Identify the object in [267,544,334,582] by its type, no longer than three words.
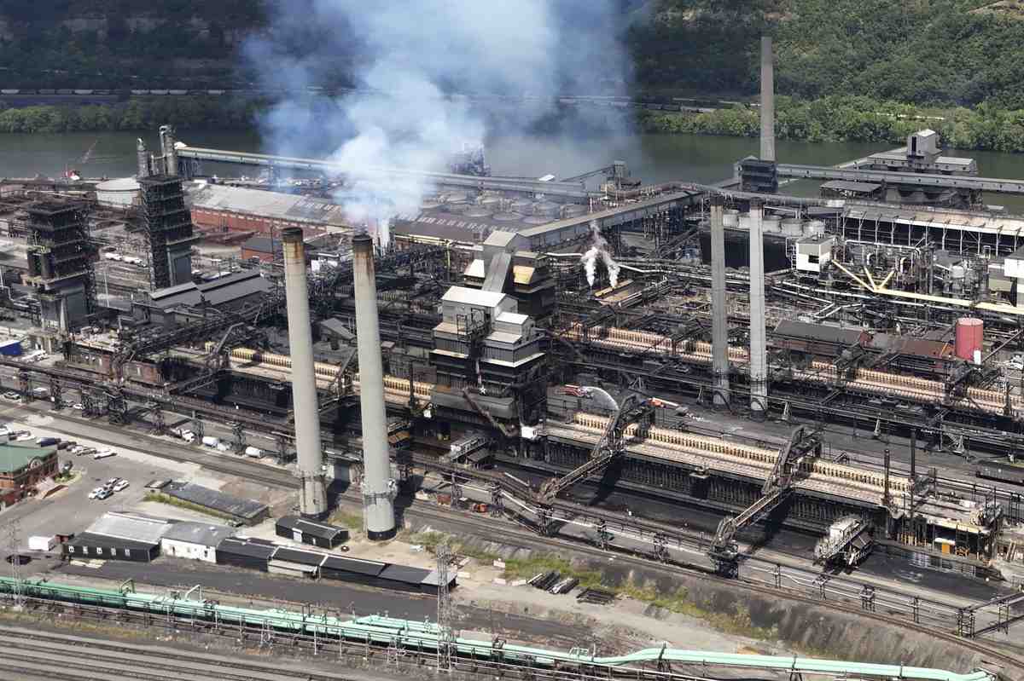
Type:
shed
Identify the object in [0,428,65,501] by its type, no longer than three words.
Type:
building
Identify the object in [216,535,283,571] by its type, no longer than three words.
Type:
shed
